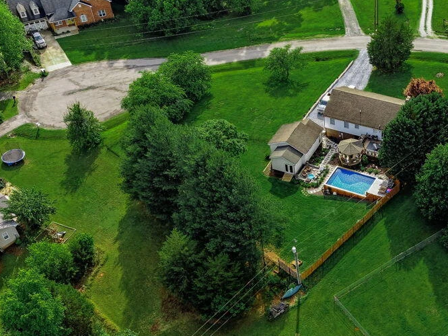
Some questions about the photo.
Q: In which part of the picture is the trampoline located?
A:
left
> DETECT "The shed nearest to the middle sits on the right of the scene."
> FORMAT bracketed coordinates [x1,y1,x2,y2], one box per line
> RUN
[268,118,326,180]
